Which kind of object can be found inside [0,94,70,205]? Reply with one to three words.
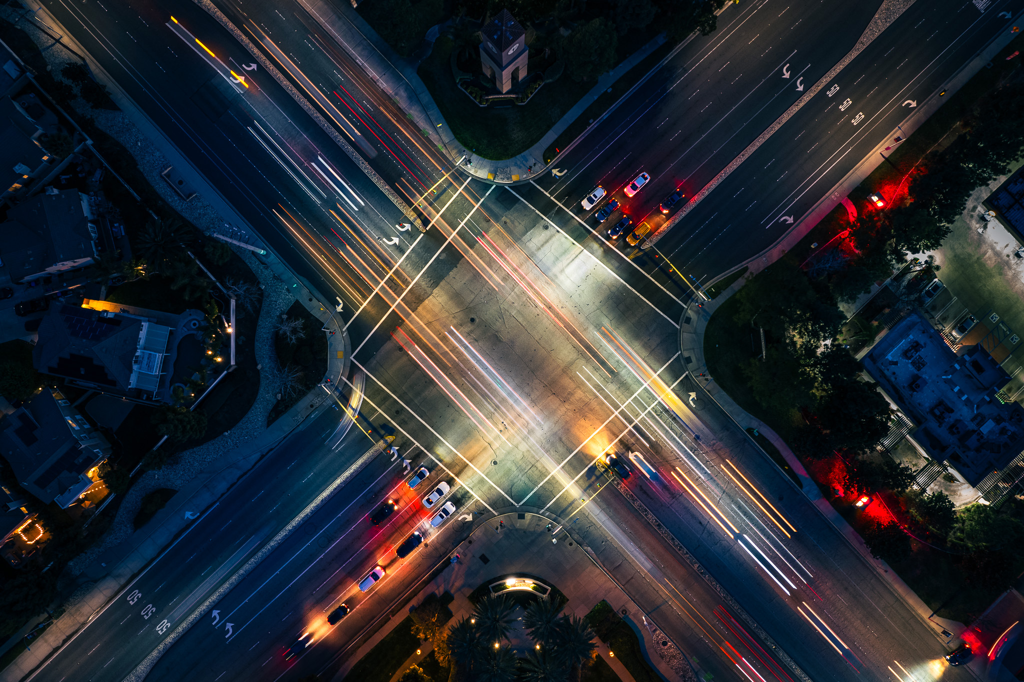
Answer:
house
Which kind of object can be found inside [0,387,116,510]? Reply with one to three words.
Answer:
house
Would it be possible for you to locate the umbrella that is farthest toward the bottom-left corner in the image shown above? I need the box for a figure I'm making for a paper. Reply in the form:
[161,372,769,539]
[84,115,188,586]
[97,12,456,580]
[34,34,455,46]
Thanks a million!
[81,498,98,515]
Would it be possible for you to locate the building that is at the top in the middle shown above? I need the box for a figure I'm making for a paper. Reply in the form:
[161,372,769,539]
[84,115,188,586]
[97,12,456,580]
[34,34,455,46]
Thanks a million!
[479,4,527,77]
